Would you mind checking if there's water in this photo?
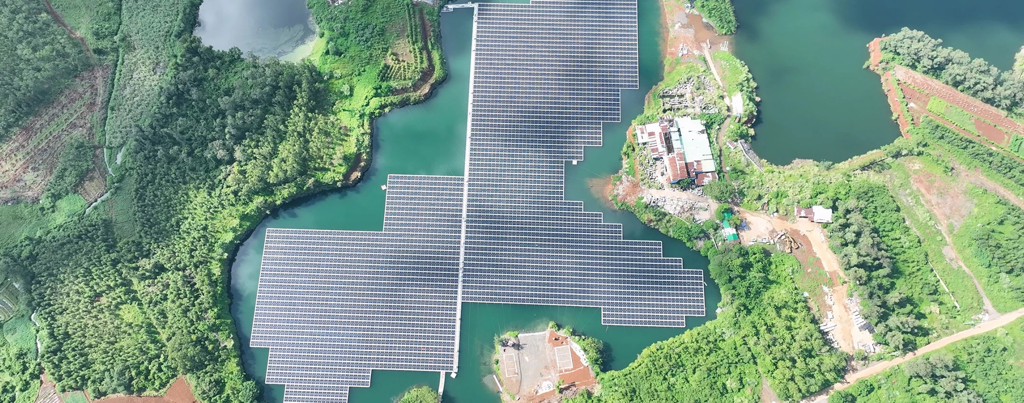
Yes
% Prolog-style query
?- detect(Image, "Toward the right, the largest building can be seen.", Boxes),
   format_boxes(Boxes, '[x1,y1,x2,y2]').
[635,115,717,188]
